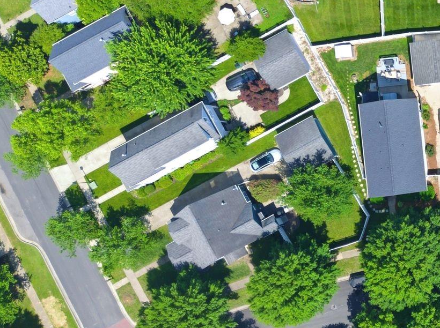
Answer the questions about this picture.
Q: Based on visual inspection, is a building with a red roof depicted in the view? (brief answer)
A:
No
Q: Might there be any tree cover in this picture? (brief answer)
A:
Yes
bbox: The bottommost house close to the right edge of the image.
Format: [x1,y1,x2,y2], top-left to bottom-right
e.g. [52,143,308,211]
[357,90,428,197]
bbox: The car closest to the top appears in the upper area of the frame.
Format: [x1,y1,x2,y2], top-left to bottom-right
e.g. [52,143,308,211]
[224,69,260,90]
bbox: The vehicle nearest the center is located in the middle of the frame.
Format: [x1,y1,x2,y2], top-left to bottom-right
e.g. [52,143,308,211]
[250,147,282,173]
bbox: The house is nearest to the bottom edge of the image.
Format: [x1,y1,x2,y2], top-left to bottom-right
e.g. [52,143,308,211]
[165,184,283,268]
